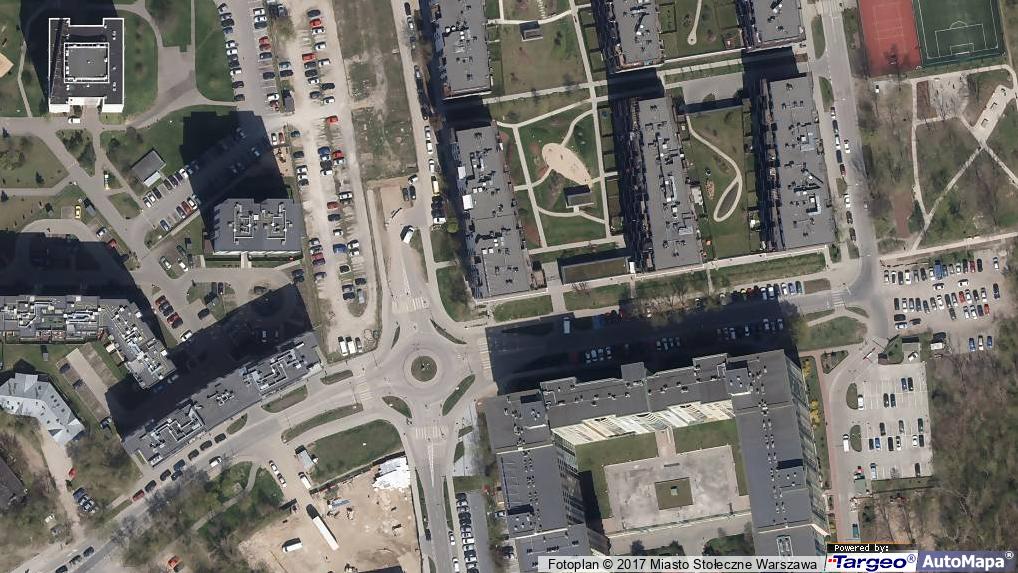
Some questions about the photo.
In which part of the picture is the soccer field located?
top right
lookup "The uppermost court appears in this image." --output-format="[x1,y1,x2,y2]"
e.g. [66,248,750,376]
[860,0,923,76]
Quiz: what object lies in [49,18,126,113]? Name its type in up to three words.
building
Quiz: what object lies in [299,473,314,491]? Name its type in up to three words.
vehicle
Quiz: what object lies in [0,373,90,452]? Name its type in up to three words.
house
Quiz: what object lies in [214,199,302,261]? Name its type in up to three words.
building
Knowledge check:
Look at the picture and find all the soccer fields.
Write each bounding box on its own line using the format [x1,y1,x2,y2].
[914,0,1006,68]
